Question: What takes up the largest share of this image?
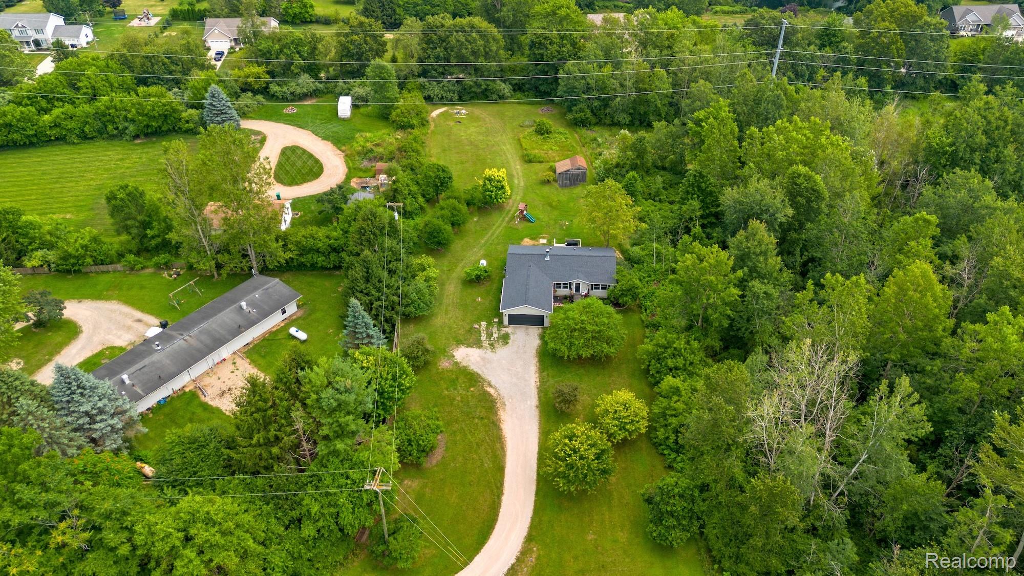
trees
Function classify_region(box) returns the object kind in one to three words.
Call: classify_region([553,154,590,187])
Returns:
barn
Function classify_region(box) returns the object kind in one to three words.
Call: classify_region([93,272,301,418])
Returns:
house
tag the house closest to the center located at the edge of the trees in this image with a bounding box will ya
[500,238,616,328]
